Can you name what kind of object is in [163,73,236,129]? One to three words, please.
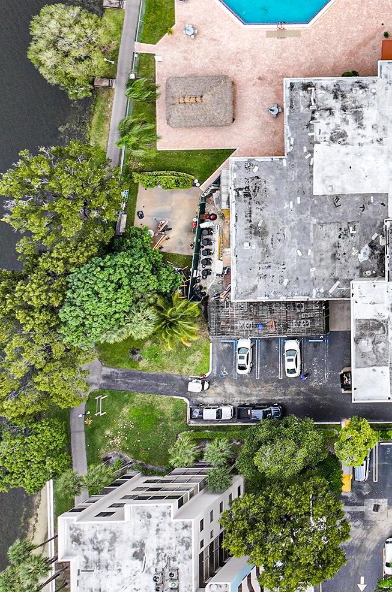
shed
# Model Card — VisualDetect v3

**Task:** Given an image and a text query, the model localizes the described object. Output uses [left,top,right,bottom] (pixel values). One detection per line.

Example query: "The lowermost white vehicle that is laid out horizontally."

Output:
[194,404,235,422]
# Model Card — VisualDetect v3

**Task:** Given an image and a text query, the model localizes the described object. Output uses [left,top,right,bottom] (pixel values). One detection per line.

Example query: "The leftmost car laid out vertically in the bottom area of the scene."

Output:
[235,338,254,375]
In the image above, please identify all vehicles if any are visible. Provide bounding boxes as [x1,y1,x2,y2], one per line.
[353,450,370,484]
[188,376,214,390]
[283,339,302,377]
[238,403,281,421]
[235,338,254,375]
[194,404,235,422]
[383,537,392,573]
